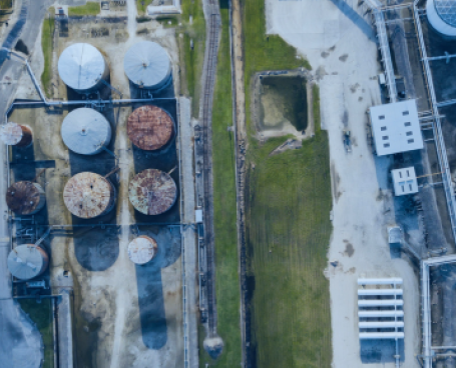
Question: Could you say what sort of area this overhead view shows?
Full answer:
This looks like an industrial area.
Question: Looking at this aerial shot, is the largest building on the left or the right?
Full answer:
The largest building is on the right side of the image.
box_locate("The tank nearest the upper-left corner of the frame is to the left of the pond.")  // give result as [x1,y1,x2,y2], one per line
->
[58,43,111,94]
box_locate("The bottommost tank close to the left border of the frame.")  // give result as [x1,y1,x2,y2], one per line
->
[8,242,51,280]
